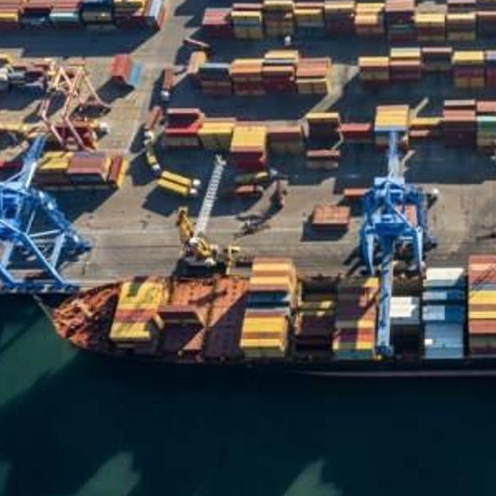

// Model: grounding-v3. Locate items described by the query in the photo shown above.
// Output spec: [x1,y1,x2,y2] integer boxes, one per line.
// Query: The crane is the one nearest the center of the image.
[176,150,229,284]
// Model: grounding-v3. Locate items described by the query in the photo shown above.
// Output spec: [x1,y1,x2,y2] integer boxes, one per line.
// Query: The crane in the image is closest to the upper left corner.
[40,68,109,150]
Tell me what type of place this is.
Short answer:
port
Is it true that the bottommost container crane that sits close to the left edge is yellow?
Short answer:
No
